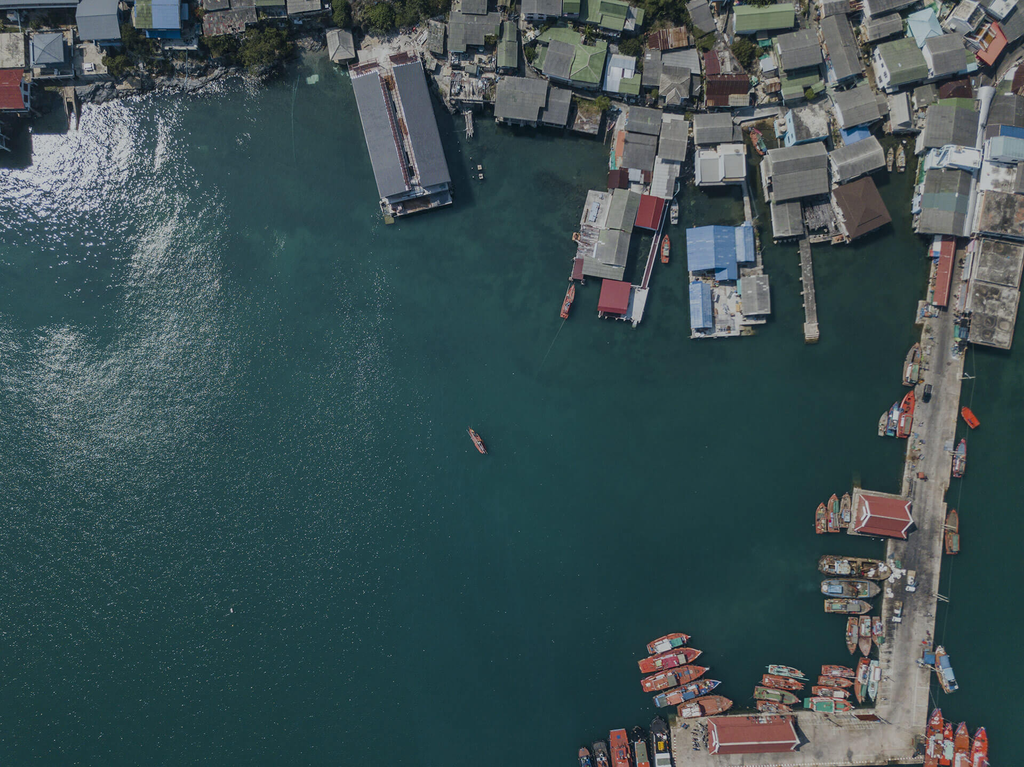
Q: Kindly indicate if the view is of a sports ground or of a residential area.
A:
residential area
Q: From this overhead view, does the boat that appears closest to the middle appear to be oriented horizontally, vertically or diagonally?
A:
diagonally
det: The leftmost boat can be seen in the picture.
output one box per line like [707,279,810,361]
[467,426,489,456]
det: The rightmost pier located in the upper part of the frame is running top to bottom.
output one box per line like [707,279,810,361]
[796,239,819,340]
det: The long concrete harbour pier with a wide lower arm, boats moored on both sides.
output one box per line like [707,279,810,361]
[670,238,967,767]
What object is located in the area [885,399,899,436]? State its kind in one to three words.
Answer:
boat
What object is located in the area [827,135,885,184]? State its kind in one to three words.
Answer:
house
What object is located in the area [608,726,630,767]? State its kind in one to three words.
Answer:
ship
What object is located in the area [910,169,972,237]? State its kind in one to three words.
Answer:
building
